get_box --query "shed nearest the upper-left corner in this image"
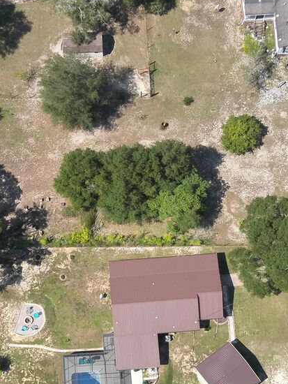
[61,32,103,58]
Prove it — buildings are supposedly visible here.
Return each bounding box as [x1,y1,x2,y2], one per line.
[194,341,262,384]
[242,0,288,57]
[108,253,224,370]
[61,32,103,58]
